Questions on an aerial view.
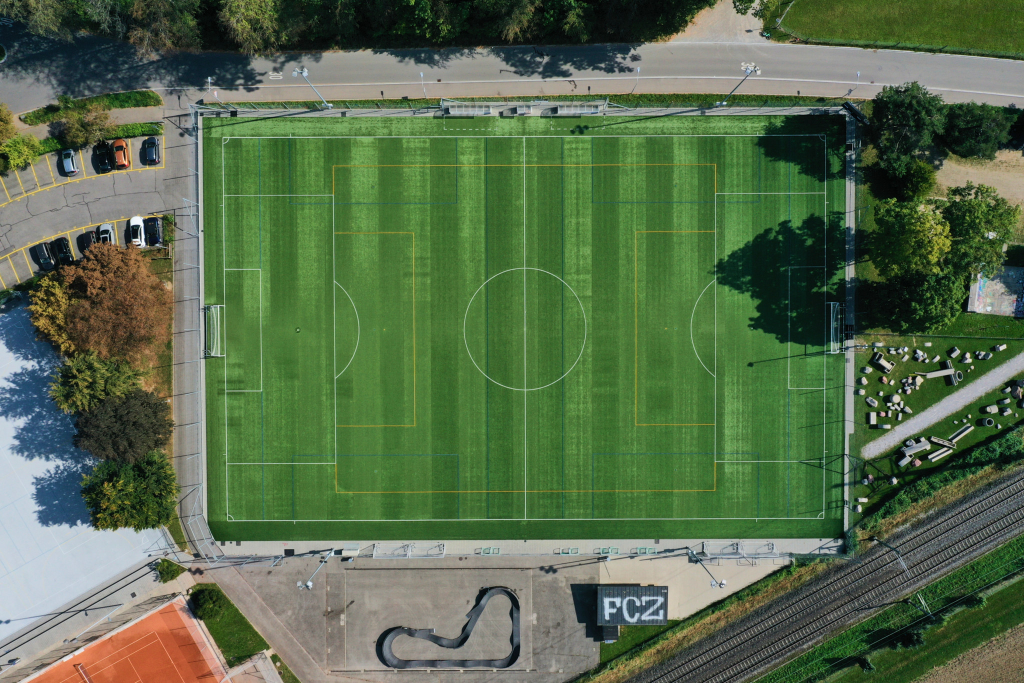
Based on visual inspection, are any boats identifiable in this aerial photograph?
No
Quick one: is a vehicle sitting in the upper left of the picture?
Yes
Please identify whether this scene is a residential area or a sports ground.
sports ground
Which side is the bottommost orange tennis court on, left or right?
left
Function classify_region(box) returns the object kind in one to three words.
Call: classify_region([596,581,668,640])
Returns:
building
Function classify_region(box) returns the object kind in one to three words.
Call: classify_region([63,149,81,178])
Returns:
car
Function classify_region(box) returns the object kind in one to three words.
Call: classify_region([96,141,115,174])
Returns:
car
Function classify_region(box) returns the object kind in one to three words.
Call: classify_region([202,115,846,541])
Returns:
soccer field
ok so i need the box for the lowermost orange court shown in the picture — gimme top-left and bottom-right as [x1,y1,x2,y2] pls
[18,595,232,683]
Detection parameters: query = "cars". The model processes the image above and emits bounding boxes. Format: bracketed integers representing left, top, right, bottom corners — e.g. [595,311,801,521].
[35,241,57,271]
[96,141,115,174]
[145,137,162,166]
[99,223,117,252]
[129,216,146,248]
[82,230,101,260]
[113,139,131,170]
[146,217,162,246]
[63,149,81,178]
[56,237,75,267]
